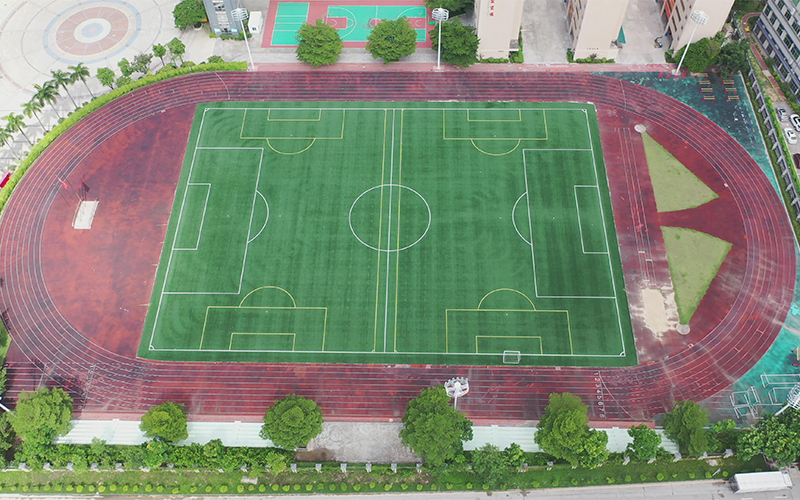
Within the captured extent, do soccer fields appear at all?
Yes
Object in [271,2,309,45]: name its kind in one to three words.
sports court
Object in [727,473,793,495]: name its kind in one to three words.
truck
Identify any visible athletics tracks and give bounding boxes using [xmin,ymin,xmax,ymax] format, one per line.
[0,73,796,421]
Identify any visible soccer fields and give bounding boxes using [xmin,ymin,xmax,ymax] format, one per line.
[138,102,638,367]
